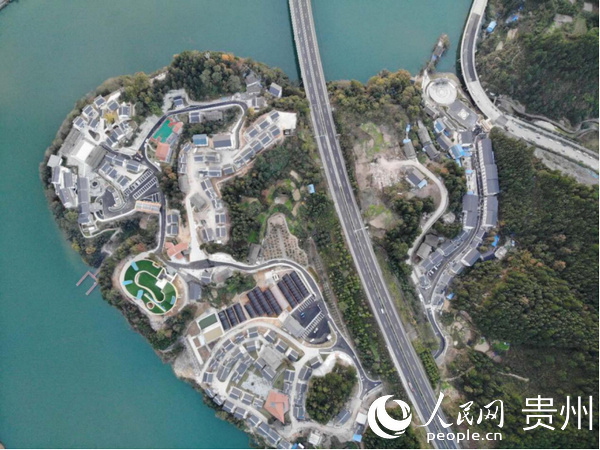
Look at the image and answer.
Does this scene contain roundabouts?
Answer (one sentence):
No, no roundabout is visible in the view.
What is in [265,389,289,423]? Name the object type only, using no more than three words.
building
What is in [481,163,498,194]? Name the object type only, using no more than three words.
house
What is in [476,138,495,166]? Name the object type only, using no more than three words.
house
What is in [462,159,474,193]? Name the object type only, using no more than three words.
building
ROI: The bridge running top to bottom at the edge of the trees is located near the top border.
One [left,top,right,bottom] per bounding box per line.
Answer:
[289,0,327,94]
